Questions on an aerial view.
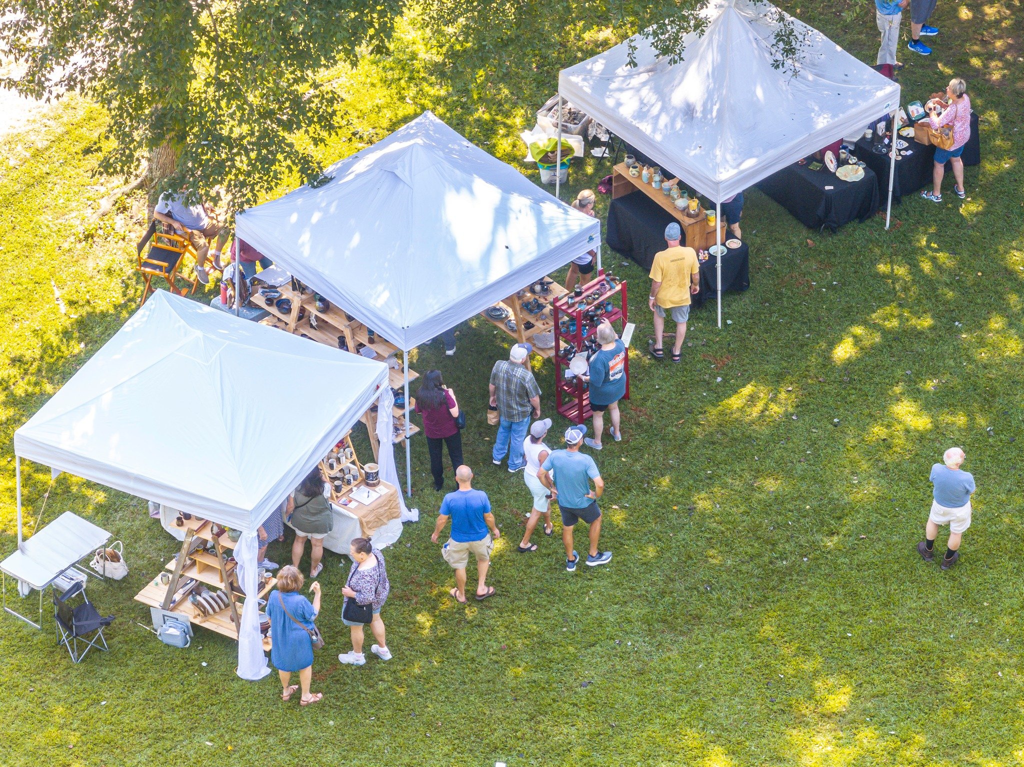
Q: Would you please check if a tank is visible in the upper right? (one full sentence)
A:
No, I see no tank in the upper right.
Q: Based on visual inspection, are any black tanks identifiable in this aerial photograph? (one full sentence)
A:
No, the frame has no black tank in it.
